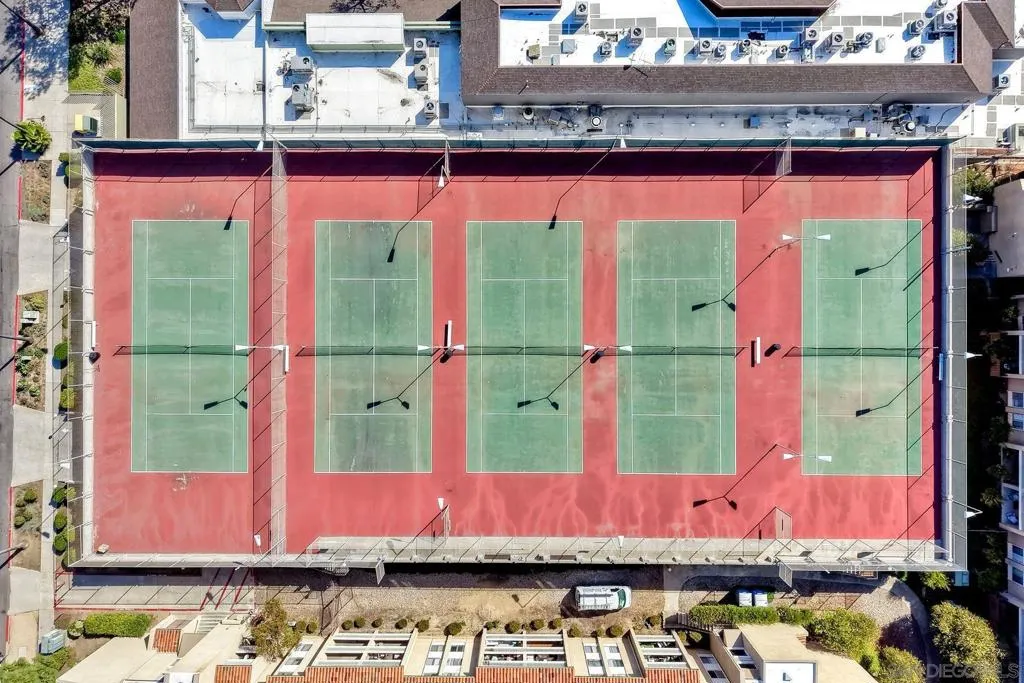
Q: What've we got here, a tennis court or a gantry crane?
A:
tennis court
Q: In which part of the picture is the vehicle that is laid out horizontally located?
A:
bottom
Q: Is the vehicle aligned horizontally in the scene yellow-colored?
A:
No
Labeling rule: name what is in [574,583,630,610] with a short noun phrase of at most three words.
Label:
vehicle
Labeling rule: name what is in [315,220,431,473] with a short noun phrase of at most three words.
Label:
tennis court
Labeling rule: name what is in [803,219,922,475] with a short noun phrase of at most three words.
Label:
tennis court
